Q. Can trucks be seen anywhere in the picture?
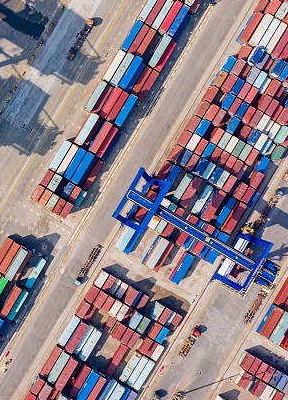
Yes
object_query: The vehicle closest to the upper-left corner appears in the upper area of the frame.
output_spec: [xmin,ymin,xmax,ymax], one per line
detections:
[69,15,96,55]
